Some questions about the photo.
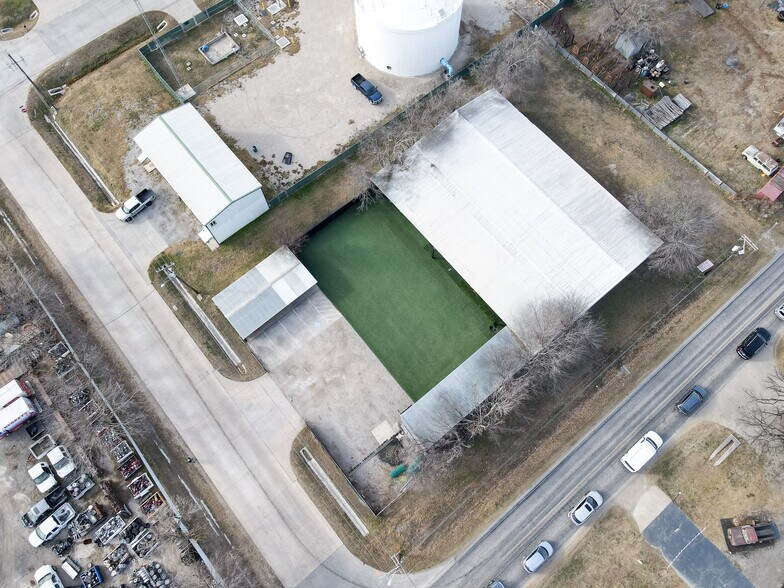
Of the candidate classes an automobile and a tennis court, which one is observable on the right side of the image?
automobile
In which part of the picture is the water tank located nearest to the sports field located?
top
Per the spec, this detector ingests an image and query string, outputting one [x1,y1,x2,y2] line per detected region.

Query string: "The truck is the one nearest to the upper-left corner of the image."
[113,185,159,223]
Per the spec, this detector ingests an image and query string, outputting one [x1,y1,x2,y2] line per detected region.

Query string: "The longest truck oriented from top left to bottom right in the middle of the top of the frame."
[347,72,385,107]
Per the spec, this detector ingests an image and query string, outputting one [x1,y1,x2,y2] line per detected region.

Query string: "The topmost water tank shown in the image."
[356,0,462,78]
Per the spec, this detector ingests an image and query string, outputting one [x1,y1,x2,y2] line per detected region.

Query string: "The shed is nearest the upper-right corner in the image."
[611,28,651,65]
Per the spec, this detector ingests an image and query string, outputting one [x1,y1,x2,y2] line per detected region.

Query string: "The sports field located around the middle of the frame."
[304,191,510,403]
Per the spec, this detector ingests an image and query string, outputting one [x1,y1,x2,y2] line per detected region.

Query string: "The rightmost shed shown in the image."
[748,172,784,206]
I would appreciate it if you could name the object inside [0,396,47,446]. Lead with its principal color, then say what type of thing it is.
white trailer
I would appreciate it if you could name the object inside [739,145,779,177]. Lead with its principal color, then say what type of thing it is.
white car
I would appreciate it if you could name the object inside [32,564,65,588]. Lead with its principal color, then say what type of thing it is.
white truck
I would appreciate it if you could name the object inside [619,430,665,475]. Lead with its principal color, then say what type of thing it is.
white vehicle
